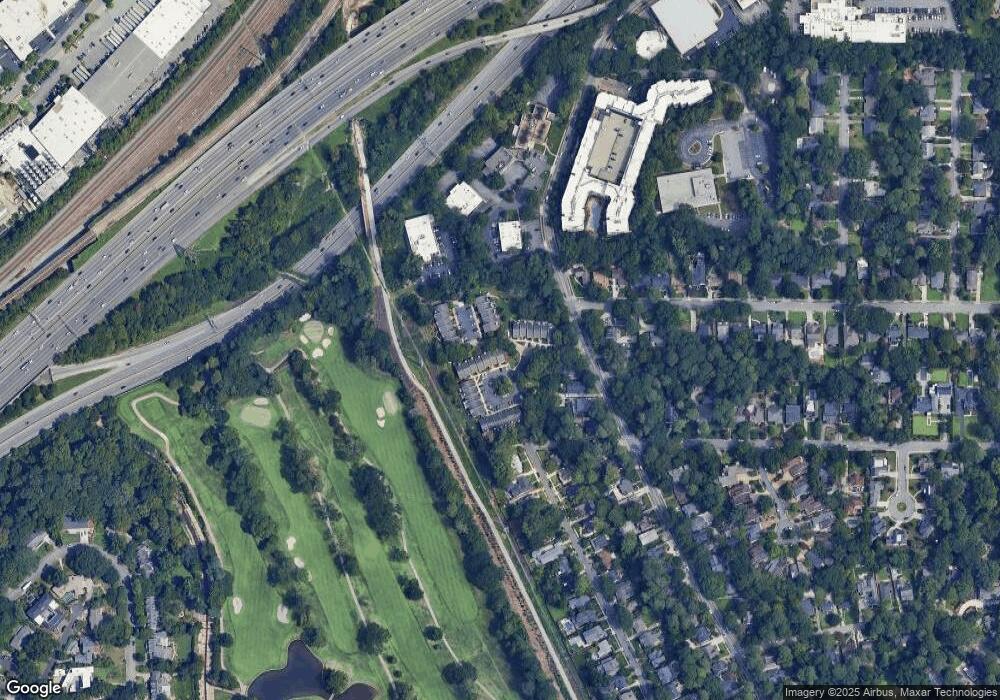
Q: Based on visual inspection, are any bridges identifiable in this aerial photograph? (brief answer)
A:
Yes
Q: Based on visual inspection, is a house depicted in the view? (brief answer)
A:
Yes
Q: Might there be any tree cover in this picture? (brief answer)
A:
Yes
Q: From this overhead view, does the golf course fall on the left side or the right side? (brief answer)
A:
left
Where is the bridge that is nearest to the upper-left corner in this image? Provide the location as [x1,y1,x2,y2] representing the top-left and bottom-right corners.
[0,226,100,310]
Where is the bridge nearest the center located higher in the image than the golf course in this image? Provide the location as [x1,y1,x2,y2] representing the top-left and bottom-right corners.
[358,168,382,262]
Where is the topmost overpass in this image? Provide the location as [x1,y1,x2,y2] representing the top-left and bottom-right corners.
[438,0,641,62]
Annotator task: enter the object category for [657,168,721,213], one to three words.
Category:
building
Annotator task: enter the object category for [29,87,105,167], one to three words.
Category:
building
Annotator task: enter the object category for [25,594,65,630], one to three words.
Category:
house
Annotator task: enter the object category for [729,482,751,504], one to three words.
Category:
house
